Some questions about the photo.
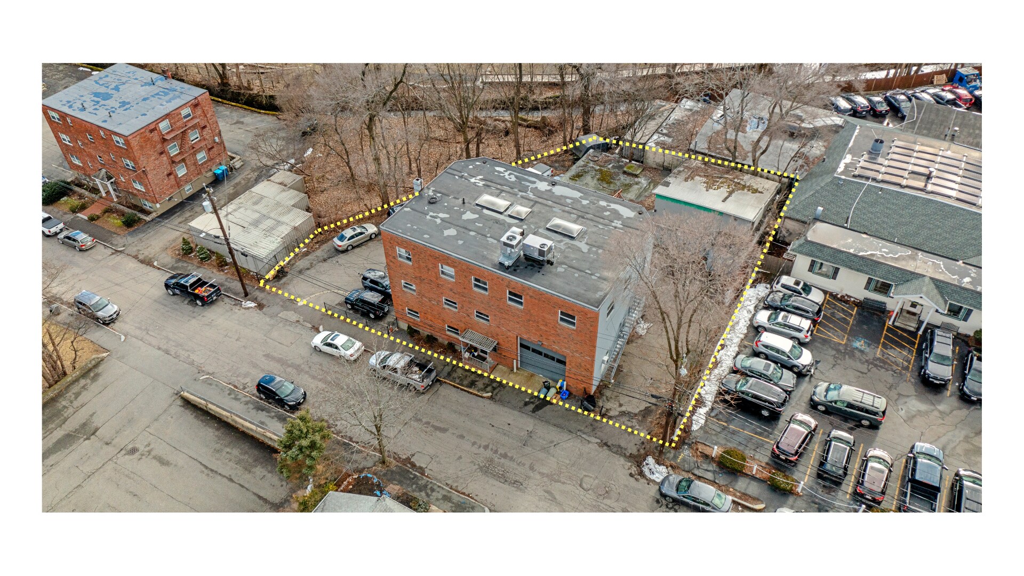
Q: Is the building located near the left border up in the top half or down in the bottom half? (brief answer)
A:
top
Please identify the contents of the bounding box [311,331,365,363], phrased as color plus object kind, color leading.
white car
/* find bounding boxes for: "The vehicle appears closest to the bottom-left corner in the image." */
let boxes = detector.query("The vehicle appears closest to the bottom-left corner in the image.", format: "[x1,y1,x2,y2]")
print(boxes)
[72,291,122,324]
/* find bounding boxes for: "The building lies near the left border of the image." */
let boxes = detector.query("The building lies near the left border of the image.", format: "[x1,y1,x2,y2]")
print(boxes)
[42,63,229,214]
